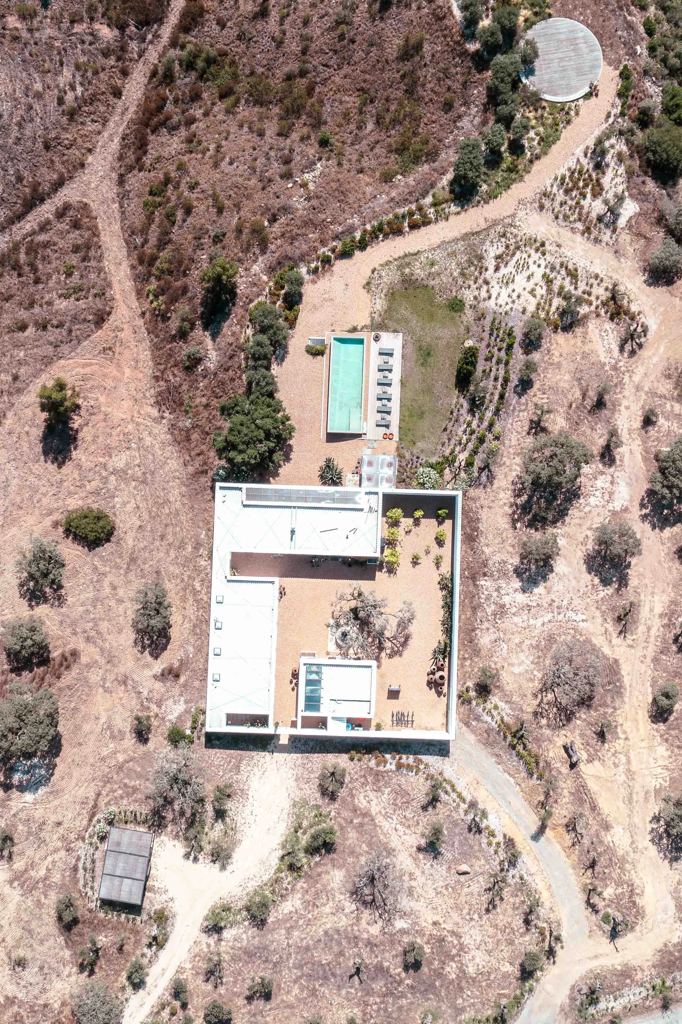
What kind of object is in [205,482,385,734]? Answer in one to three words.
house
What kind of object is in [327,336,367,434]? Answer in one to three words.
swimming pool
